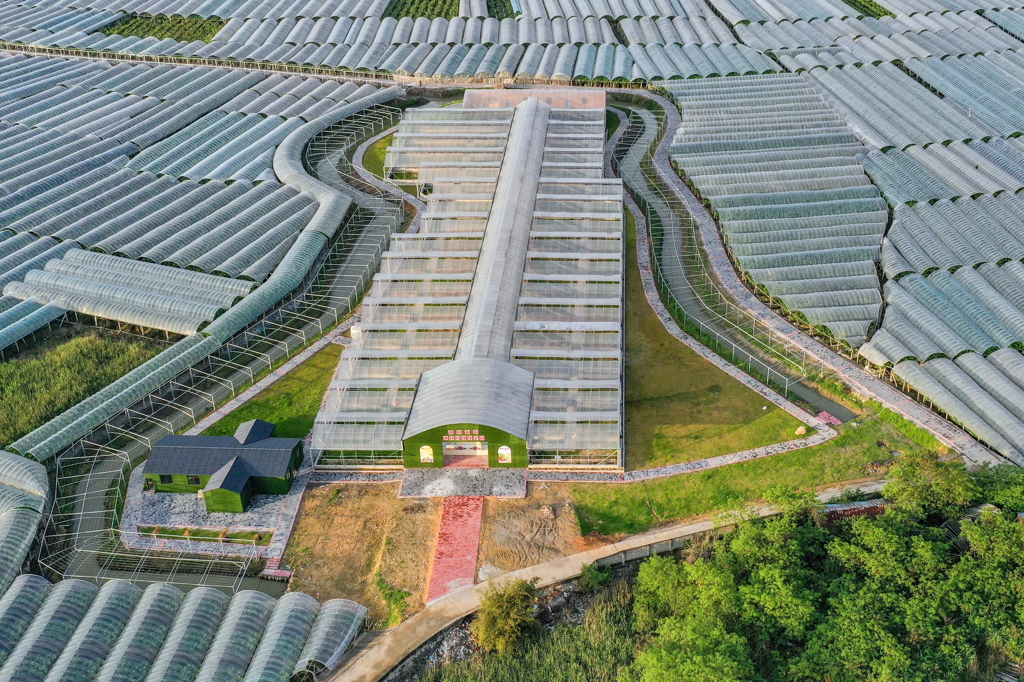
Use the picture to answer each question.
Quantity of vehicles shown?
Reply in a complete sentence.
The photo contains no vehicles.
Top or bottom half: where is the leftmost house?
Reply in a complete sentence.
The leftmost house sits in the bottom half of the picture.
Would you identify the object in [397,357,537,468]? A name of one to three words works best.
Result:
building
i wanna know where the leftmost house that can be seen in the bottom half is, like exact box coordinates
[136,416,302,512]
